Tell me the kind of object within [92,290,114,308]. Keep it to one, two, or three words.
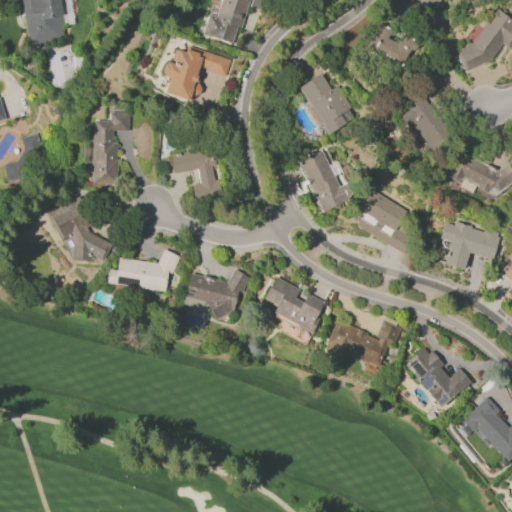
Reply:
swimming pool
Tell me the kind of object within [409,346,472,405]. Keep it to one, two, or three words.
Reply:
house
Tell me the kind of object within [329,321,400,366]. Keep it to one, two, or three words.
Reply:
house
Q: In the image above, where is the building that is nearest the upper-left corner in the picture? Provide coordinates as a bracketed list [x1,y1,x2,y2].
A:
[24,0,67,44]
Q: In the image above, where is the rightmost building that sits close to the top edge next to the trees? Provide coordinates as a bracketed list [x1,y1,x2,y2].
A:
[460,11,512,68]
